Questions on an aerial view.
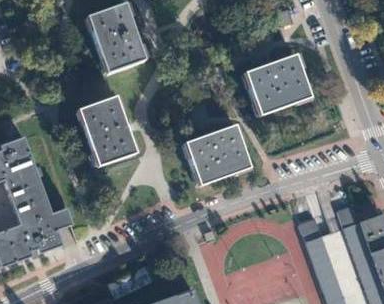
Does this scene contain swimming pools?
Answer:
No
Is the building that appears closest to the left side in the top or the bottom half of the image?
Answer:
bottom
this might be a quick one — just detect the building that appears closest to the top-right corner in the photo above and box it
[242,54,314,115]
